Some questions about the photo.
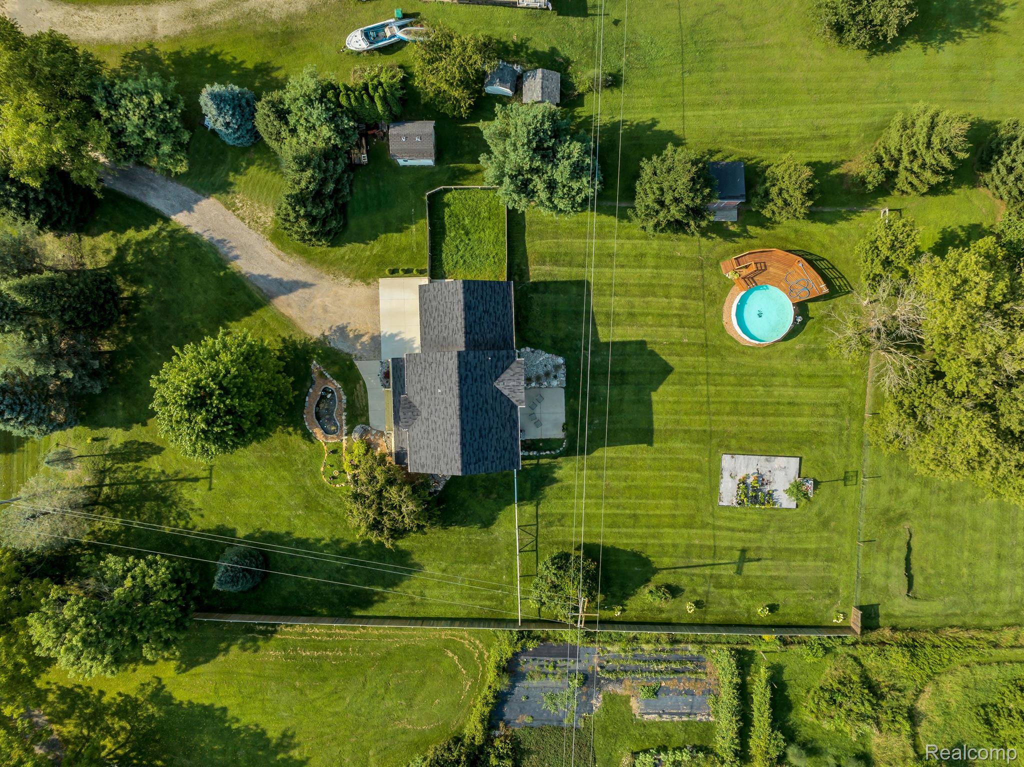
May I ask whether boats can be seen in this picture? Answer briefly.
Yes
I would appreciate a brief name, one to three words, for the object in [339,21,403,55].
boat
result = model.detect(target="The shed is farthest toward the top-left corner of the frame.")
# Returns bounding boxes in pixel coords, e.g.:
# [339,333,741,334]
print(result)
[387,123,436,167]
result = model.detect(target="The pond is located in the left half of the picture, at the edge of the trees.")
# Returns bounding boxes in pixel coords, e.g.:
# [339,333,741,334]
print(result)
[301,359,350,444]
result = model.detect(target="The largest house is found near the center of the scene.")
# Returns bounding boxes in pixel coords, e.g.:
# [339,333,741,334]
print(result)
[382,278,525,476]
